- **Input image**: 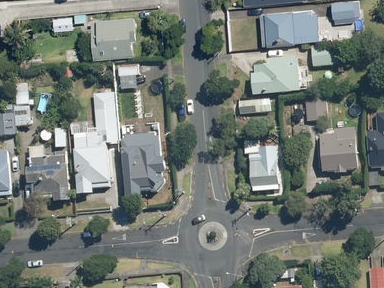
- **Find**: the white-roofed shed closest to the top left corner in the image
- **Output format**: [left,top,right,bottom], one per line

[52,17,74,33]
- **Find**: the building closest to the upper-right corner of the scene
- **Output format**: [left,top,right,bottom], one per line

[332,0,362,25]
